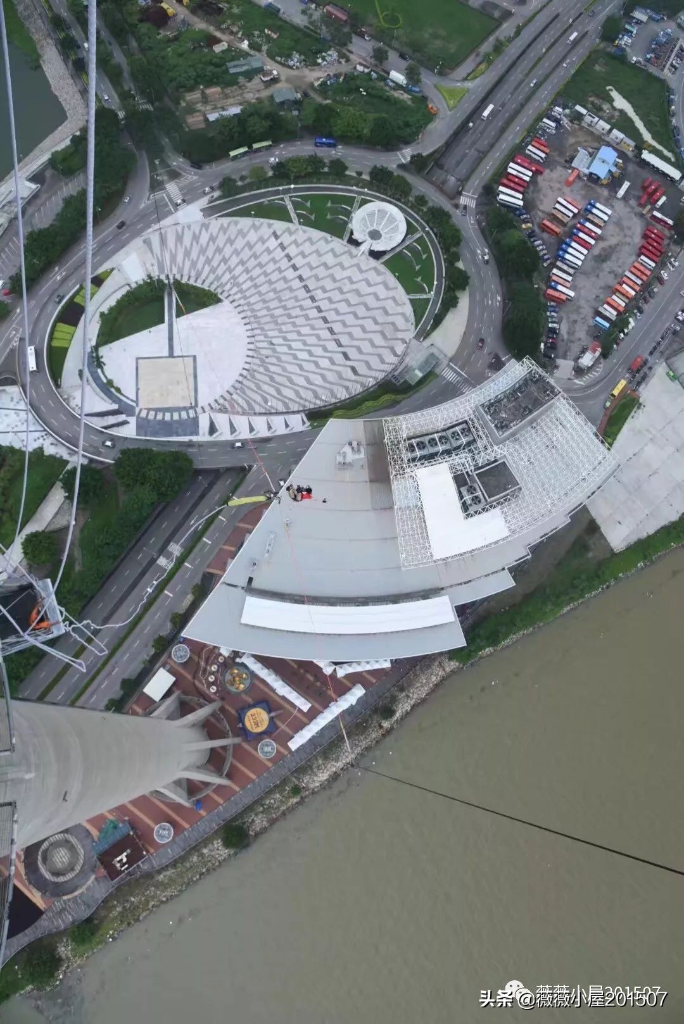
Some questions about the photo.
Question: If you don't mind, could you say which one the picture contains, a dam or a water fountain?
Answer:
water fountain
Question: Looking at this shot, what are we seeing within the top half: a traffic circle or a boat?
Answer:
traffic circle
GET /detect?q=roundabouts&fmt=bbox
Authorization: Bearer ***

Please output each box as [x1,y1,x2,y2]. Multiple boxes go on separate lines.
[49,182,446,439]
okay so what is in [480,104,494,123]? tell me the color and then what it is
white vehicle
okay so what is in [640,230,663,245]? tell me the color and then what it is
red vehicle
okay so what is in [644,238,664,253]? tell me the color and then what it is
red vehicle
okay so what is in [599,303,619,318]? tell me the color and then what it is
white vehicle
